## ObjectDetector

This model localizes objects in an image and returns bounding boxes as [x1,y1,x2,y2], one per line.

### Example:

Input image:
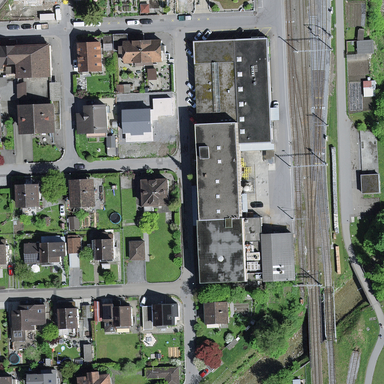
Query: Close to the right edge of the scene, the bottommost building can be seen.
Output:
[361,173,379,194]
